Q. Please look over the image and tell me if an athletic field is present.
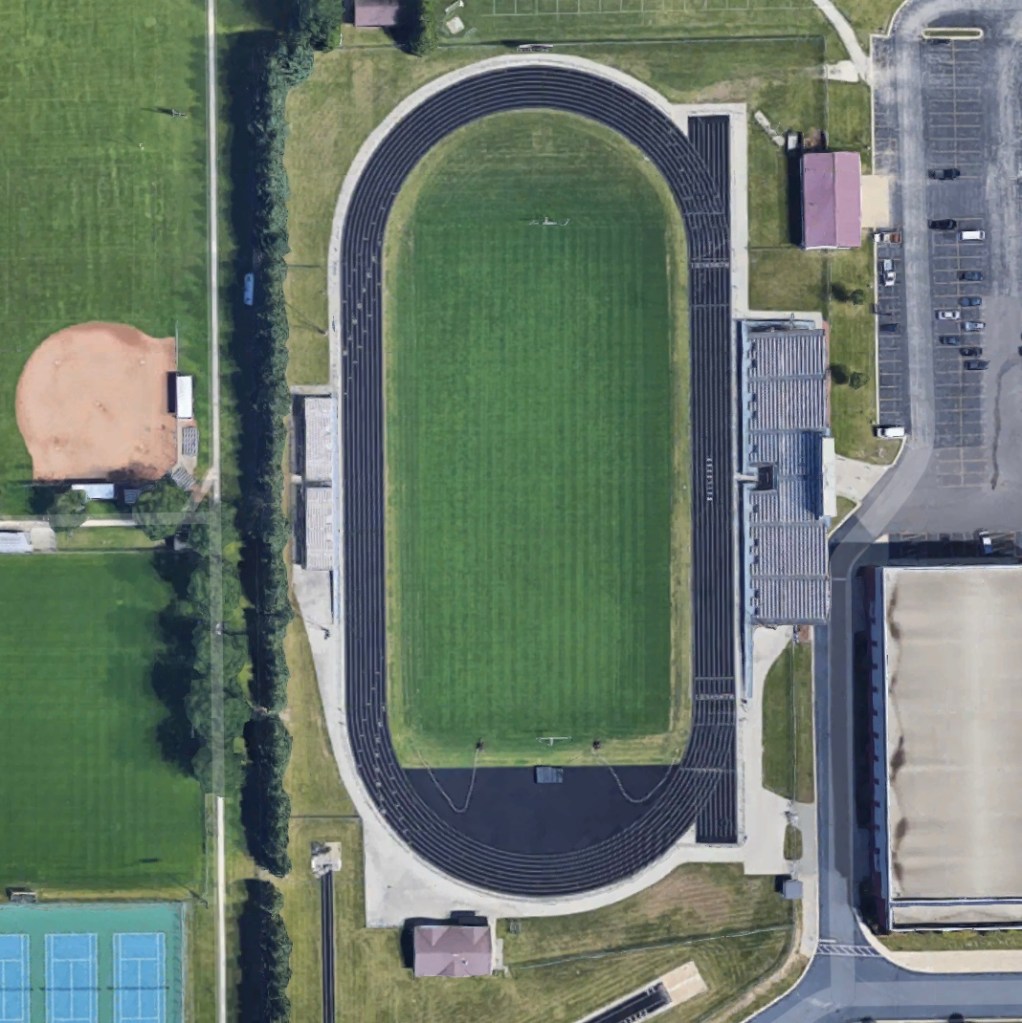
Yes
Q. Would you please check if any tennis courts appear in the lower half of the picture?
Yes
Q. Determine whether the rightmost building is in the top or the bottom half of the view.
bottom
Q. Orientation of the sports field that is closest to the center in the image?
up and down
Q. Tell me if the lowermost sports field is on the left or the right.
left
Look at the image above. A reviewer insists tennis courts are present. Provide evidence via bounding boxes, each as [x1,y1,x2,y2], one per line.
[105,903,186,1023]
[0,904,37,1023]
[37,904,105,1023]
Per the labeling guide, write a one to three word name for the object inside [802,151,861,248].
building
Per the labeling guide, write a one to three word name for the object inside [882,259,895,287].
vehicle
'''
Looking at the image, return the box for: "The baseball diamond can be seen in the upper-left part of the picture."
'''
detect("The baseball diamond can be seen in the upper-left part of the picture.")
[0,0,211,517]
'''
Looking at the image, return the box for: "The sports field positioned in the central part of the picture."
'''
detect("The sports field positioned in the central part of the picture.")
[382,110,692,767]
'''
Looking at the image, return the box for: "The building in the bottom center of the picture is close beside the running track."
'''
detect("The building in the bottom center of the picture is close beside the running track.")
[414,913,493,979]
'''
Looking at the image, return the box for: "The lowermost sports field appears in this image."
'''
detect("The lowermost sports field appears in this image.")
[0,553,205,890]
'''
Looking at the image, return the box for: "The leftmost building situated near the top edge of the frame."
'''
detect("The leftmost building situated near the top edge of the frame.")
[354,0,399,29]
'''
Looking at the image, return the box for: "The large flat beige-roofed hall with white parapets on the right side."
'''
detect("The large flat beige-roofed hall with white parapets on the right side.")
[865,563,1022,932]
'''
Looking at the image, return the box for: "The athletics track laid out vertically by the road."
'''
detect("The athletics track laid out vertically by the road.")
[340,68,737,895]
